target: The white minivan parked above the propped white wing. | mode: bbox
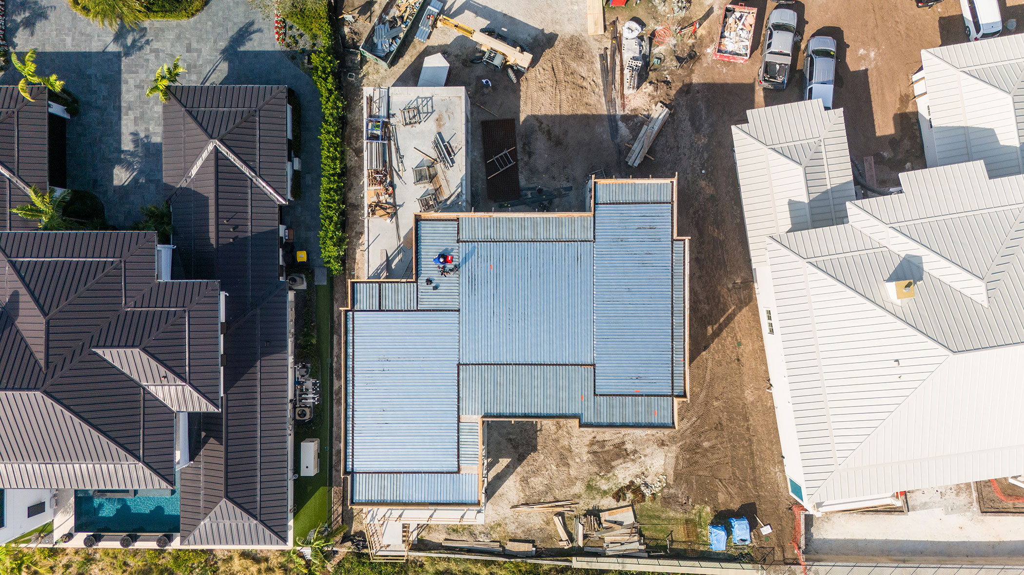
[956,0,1005,42]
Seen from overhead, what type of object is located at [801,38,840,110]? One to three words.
truck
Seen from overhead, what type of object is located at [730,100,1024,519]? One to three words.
house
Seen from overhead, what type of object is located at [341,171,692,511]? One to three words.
house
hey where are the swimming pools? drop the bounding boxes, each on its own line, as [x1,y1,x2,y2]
[73,470,186,533]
